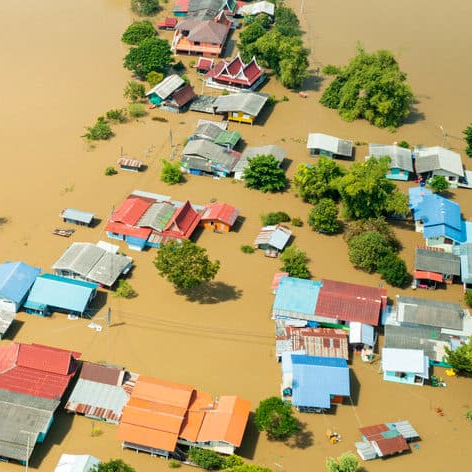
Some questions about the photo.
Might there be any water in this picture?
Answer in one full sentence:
Yes, some water is visible.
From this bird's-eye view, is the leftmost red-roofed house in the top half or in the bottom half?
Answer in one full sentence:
The leftmost red-roofed house is in the bottom half of the image.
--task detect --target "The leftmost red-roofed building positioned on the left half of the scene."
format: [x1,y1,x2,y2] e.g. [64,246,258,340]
[0,343,80,409]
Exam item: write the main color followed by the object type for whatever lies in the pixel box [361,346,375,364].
white boat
